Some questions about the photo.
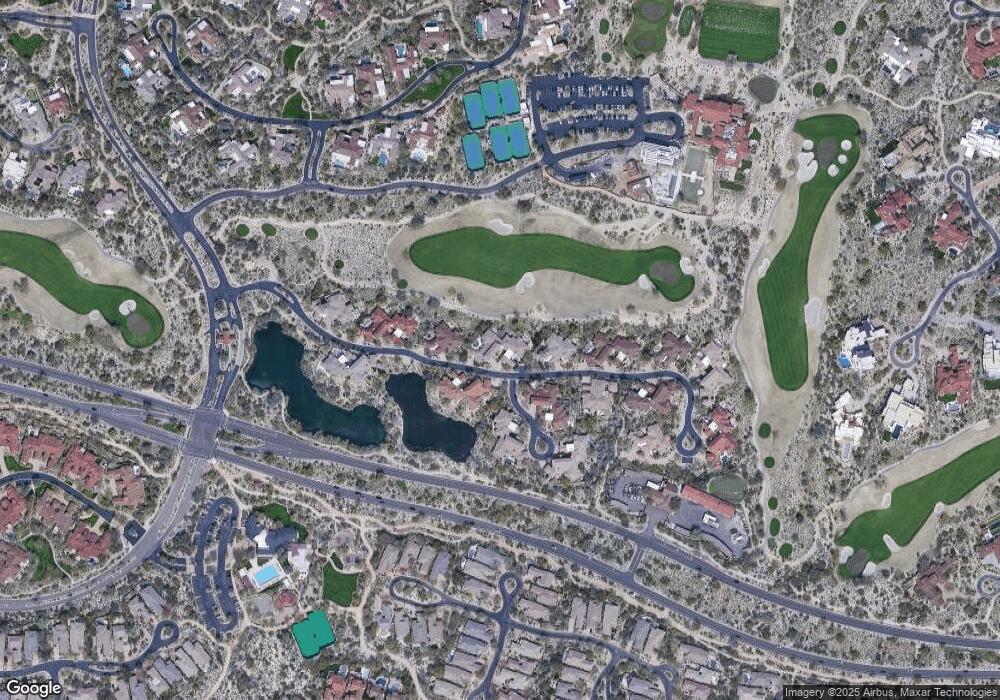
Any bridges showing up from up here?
No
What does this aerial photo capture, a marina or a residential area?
residential area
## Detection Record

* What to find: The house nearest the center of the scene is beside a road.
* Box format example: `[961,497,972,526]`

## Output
[476,327,532,371]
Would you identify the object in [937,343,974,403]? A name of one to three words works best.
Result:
house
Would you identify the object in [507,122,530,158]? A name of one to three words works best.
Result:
tennis court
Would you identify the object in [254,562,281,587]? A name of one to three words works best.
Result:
swimming pool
